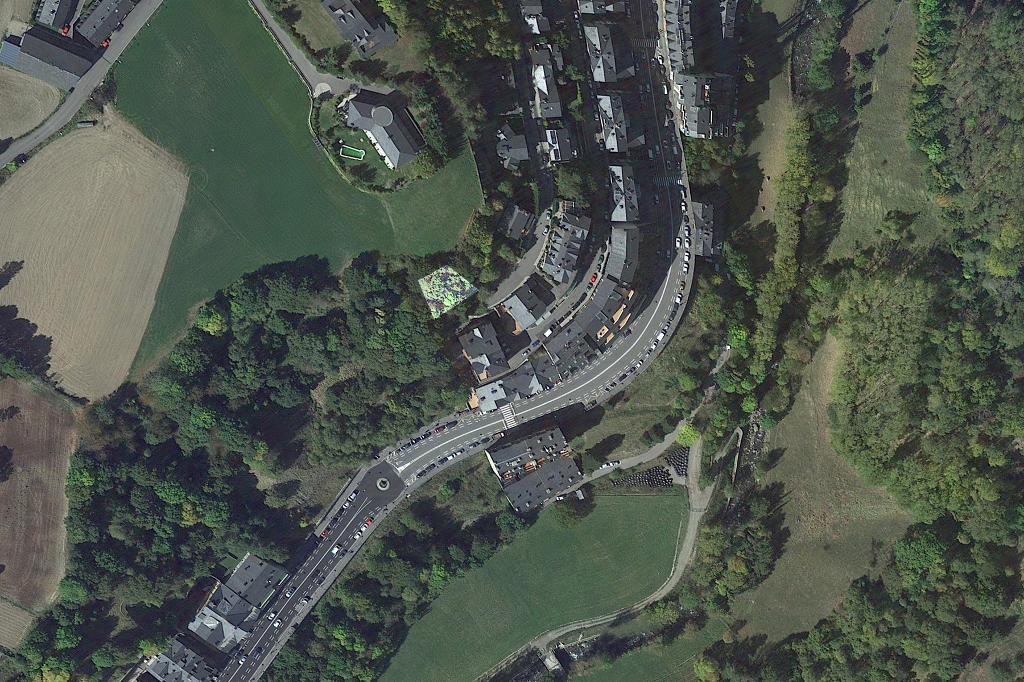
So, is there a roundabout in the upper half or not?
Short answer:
No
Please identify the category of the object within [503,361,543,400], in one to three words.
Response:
house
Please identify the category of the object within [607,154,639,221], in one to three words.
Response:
building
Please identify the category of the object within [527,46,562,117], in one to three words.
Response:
house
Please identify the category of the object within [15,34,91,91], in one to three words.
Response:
barn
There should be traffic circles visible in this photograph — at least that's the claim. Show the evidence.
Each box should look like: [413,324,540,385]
[354,461,406,509]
